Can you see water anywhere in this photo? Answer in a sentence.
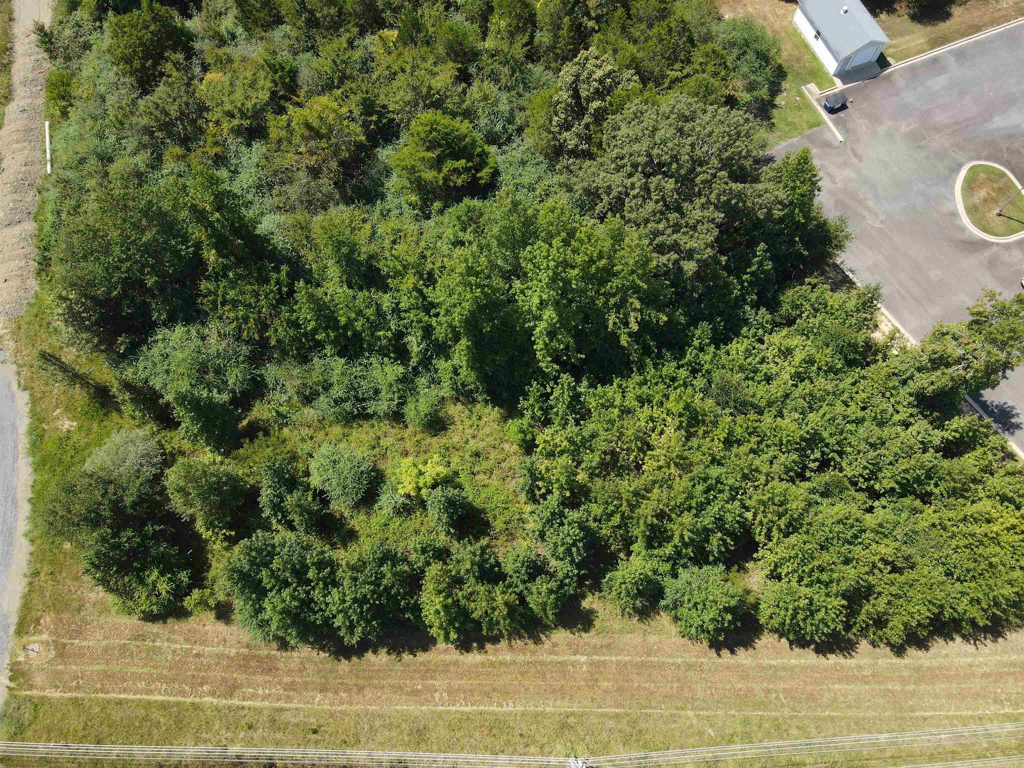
No, there's no water in this view.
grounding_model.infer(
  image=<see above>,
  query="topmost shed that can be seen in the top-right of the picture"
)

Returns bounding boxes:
[788,0,893,76]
